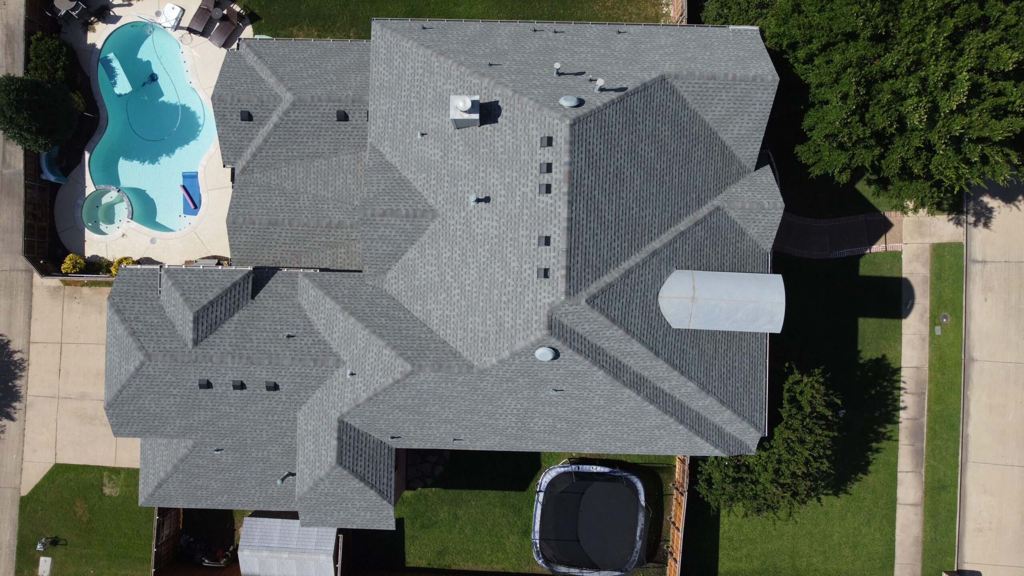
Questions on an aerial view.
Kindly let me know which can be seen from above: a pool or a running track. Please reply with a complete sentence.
It is a pool that can be seen here.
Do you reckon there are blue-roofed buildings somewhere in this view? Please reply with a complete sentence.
No, no blue-roofed building can be seen from above.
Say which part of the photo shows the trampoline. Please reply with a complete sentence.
The trampoline is located in the bottom region of the scene.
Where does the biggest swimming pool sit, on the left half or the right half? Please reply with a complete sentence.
The biggest swimming pool is on the left side of the image.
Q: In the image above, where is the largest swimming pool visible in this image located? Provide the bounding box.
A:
[78,14,220,239]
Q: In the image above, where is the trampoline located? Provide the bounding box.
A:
[527,458,653,576]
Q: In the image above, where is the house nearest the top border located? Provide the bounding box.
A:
[103,16,785,529]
